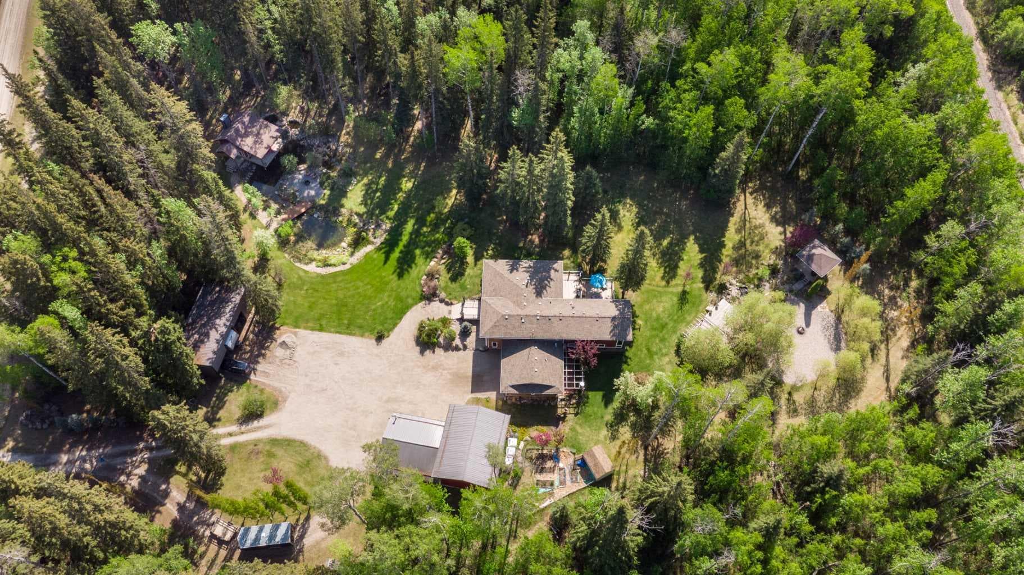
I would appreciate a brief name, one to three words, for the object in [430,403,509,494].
building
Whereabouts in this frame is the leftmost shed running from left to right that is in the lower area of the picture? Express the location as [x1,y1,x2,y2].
[237,522,293,549]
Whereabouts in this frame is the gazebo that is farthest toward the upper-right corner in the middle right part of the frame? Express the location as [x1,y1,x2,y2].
[795,239,842,280]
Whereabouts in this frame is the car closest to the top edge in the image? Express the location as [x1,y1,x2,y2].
[220,357,255,375]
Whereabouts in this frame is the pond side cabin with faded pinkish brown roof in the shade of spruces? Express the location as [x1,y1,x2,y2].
[212,108,294,180]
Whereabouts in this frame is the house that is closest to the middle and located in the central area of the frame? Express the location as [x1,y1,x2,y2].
[479,259,632,397]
